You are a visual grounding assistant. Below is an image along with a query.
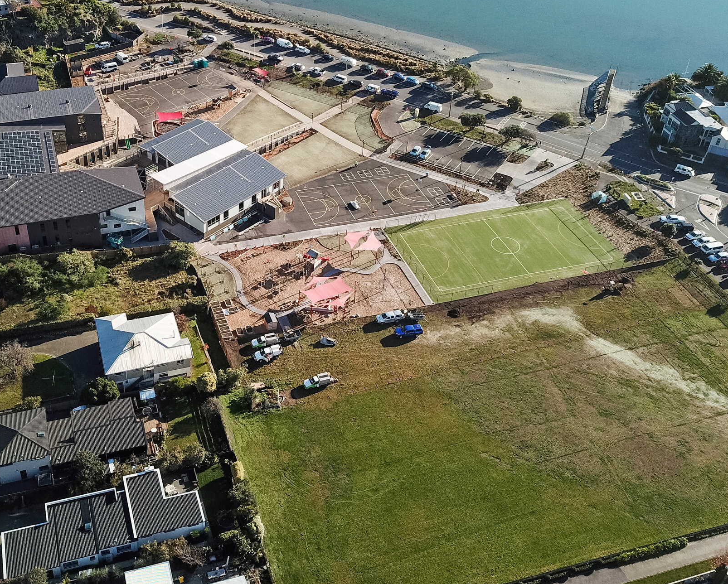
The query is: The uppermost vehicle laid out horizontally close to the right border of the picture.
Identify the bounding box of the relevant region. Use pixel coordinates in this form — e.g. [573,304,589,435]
[674,164,695,176]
